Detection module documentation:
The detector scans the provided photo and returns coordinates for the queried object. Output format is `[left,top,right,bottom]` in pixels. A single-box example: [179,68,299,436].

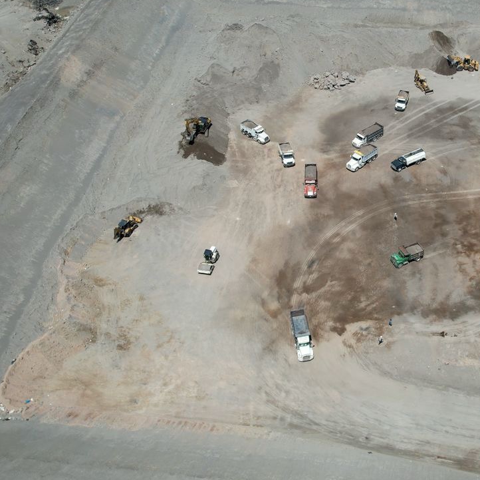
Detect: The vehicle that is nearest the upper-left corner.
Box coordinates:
[179,118,214,140]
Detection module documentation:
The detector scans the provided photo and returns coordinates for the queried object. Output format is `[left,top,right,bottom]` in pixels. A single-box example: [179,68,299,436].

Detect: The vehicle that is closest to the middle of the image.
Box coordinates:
[195,251,220,275]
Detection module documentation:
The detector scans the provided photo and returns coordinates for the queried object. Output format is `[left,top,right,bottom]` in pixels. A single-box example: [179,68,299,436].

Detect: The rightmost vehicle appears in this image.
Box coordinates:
[451,55,480,71]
